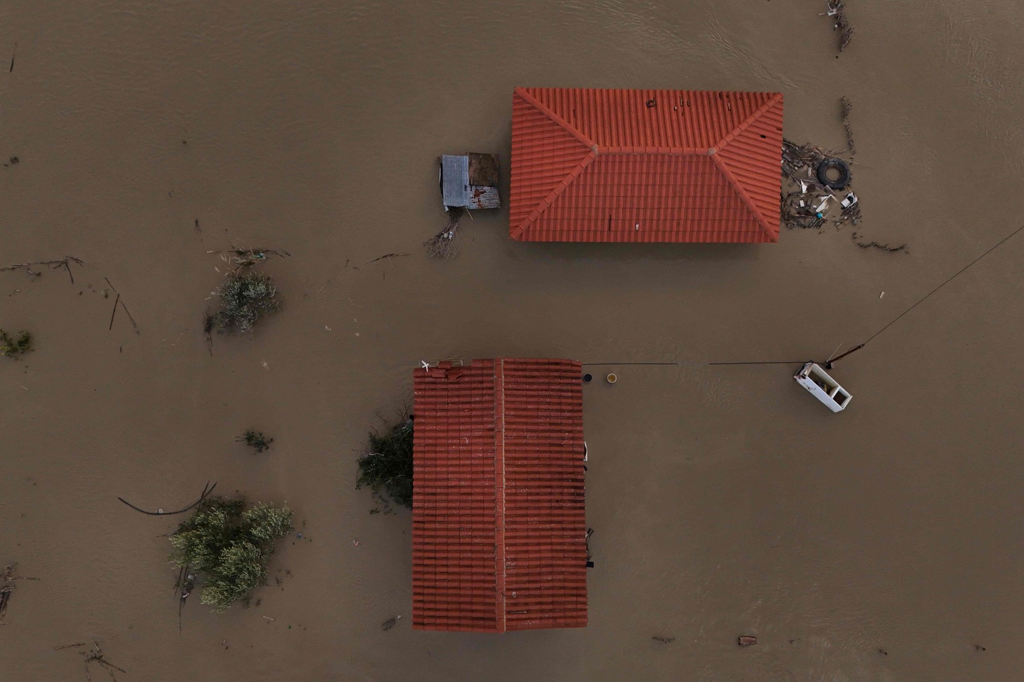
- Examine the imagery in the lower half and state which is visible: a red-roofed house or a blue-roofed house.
red-roofed house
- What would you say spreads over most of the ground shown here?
water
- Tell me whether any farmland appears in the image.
No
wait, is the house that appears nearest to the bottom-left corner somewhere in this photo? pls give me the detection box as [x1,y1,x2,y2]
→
[412,359,588,636]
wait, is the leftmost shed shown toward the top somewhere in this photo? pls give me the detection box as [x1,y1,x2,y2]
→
[438,152,501,212]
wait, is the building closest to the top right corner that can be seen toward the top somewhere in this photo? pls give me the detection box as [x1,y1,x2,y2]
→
[508,86,785,243]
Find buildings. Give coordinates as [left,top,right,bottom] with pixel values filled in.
[508,86,785,243]
[412,359,588,636]
[438,152,501,212]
